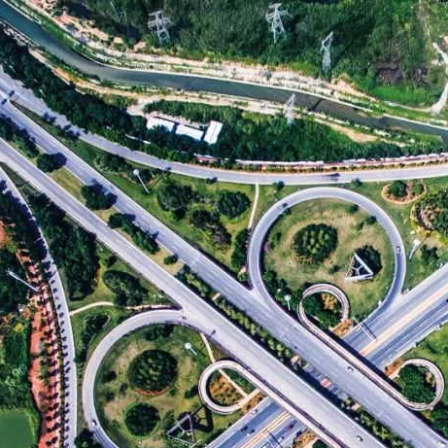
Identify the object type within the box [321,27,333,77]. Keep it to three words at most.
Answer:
pylon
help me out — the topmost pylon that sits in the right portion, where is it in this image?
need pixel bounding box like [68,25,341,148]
[262,0,285,45]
